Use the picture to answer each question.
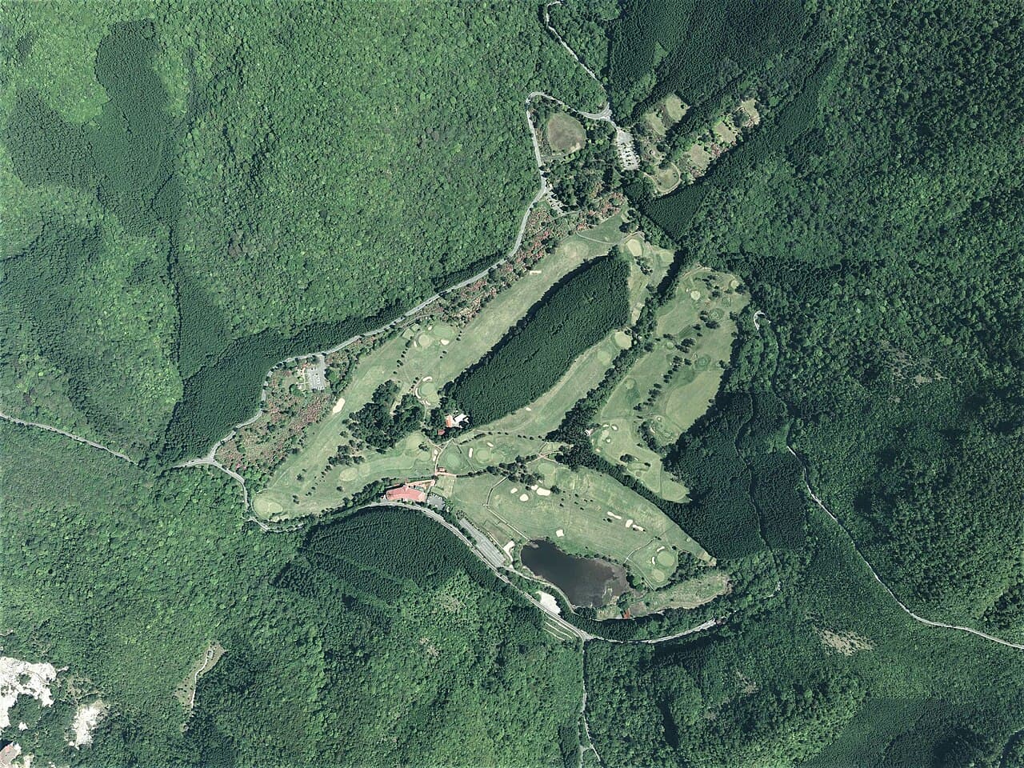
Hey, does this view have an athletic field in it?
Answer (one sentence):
Yes, the photo shows an athletic field.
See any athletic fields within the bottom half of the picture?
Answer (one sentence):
No, no athletic field appears within the bottom half of the picture.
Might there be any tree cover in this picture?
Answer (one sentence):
Yes, there is tree cover in the image.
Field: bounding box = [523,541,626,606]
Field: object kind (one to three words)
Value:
pond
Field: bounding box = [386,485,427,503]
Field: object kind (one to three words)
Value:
building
